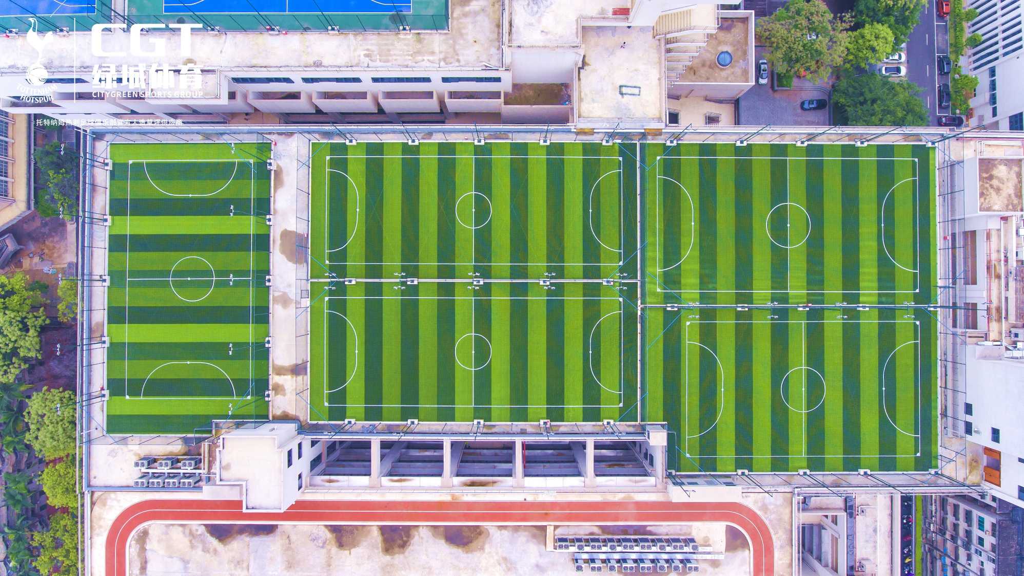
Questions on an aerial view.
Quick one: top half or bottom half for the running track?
bottom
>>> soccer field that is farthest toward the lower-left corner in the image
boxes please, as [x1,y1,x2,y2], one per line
[104,141,274,436]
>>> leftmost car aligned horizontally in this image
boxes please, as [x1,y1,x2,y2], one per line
[802,98,827,110]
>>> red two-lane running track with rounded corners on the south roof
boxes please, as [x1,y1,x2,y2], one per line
[105,499,775,576]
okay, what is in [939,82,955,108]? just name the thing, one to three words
car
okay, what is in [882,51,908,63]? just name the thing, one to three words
vehicle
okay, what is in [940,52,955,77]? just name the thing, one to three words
car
